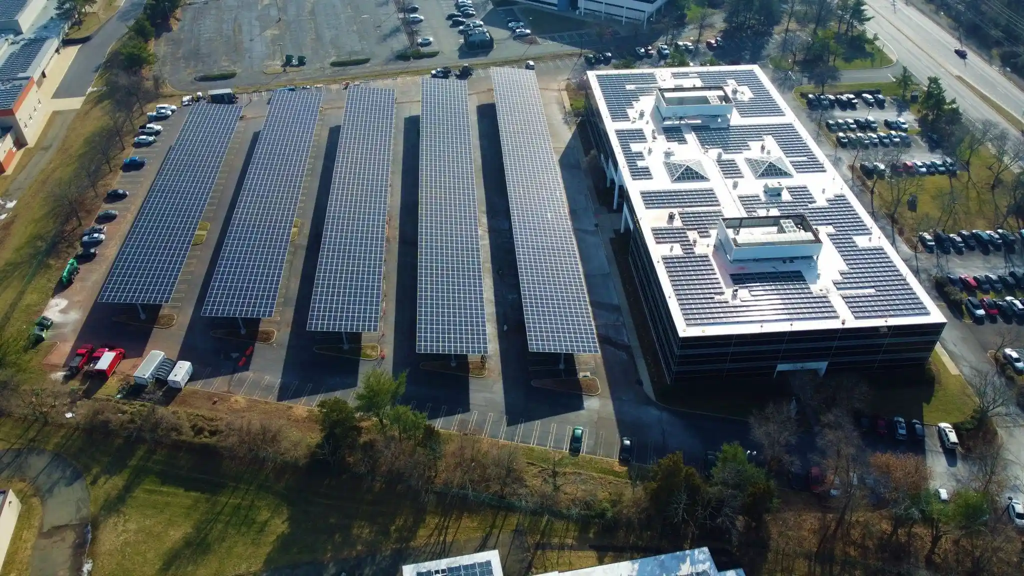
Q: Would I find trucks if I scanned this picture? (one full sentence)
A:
Yes, the picture does show a truck.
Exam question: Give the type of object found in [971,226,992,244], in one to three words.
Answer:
vehicle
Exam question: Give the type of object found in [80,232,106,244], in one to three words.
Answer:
vehicle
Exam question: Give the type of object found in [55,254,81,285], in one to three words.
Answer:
work vehicle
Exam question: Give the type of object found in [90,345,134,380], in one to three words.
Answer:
truck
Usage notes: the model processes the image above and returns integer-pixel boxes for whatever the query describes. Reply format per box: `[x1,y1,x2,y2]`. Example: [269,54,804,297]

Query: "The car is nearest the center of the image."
[570,427,584,454]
